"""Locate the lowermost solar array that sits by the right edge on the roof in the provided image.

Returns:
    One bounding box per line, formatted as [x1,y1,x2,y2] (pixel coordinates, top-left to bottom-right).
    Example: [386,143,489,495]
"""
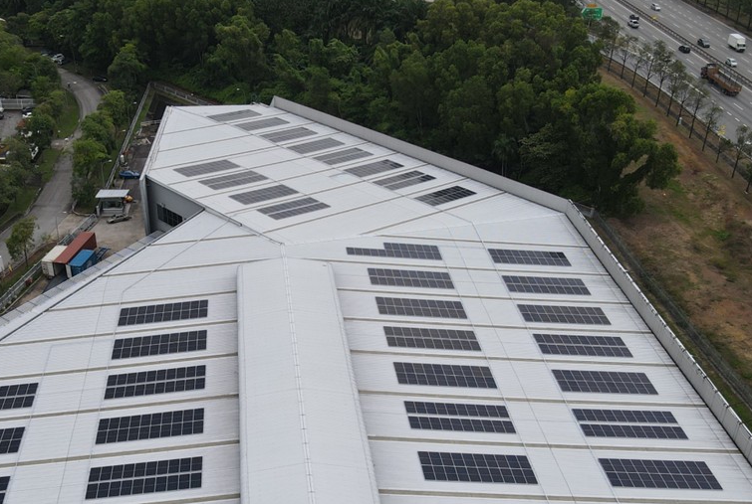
[598,457,723,489]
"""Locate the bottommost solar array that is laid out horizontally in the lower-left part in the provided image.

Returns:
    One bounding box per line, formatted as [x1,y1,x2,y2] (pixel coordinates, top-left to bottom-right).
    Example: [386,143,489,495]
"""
[85,456,203,498]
